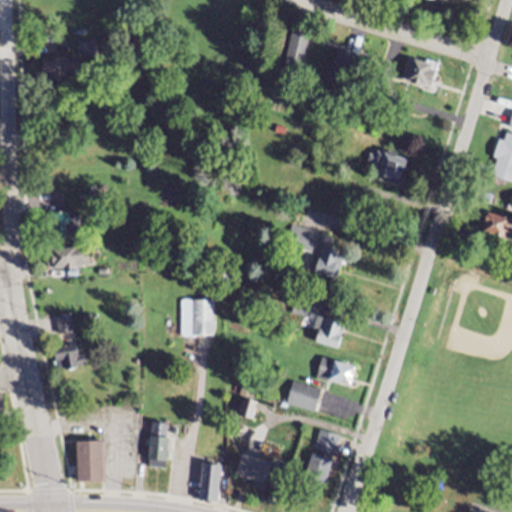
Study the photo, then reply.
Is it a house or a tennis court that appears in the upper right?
house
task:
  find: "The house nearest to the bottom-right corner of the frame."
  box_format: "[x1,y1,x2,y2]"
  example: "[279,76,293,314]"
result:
[310,430,337,483]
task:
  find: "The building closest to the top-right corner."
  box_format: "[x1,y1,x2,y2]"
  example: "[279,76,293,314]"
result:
[413,56,444,91]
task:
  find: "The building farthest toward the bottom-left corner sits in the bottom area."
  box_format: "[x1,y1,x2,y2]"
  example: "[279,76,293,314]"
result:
[76,442,102,482]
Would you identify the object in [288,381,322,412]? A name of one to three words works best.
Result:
building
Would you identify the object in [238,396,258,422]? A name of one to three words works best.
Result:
building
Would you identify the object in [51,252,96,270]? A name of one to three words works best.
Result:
house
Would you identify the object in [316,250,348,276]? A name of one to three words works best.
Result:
house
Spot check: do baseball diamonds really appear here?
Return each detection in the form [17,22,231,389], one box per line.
[428,270,512,444]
